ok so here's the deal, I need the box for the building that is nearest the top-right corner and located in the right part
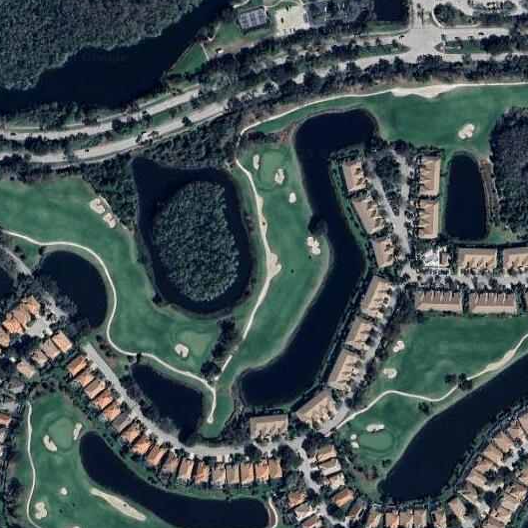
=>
[419,157,440,195]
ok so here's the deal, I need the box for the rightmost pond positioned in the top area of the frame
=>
[445,150,487,239]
